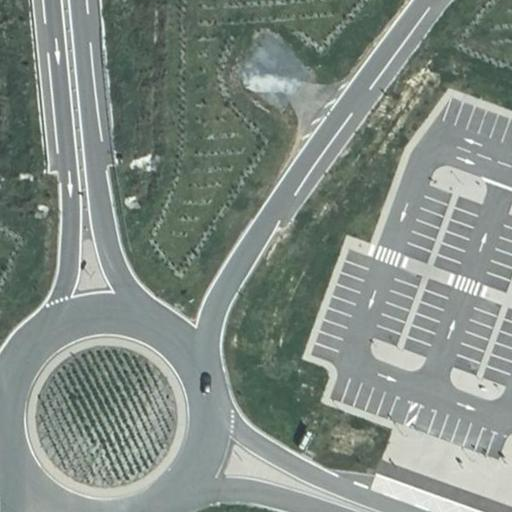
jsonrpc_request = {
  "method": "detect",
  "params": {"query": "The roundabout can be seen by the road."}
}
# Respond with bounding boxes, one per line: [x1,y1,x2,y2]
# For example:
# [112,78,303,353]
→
[0,294,230,512]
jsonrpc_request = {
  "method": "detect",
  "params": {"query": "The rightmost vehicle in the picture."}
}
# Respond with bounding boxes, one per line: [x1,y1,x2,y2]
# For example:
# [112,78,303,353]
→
[298,431,314,452]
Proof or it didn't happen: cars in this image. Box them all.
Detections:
[202,374,212,394]
[298,431,314,452]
